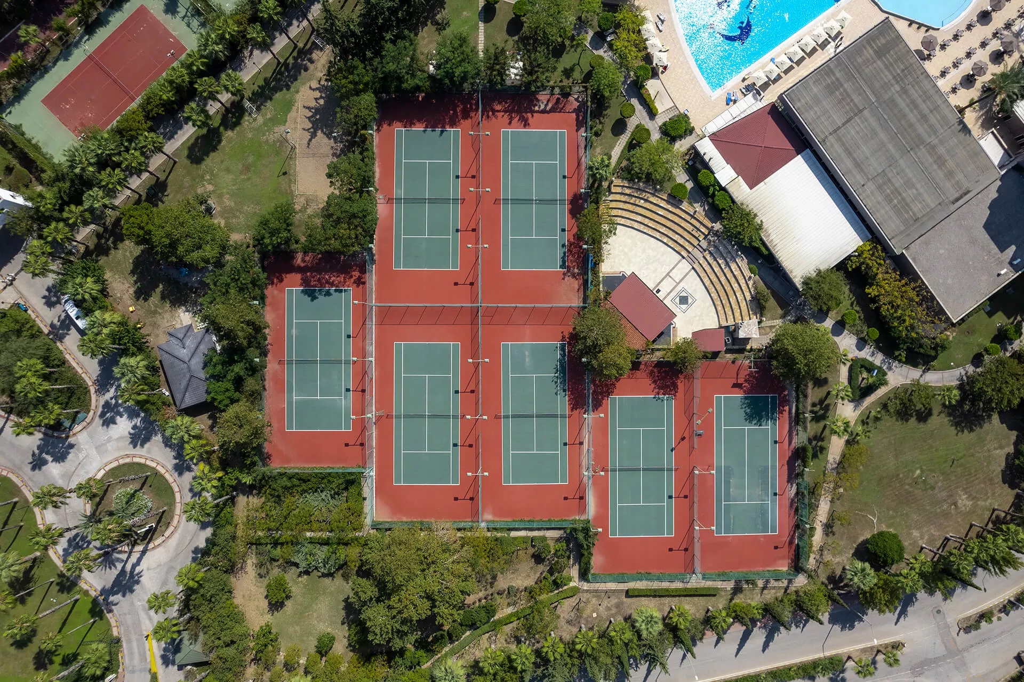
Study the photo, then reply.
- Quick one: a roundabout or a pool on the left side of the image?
roundabout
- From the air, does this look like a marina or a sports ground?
sports ground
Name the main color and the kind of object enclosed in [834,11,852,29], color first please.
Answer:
white umbrella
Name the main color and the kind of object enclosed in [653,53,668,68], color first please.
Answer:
white umbrella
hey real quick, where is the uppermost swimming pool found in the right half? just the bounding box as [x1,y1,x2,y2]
[873,0,976,28]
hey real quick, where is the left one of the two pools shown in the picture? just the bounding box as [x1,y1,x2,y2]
[669,0,852,96]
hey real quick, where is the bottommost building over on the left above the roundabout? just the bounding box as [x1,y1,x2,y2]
[160,324,221,410]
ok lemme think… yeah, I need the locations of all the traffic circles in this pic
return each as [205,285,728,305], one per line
[83,453,183,554]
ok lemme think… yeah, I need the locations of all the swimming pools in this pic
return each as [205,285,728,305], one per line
[669,0,852,96]
[873,0,976,28]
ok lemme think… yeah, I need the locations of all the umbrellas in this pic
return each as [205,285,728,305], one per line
[822,20,840,38]
[653,53,668,68]
[809,27,827,46]
[965,61,987,78]
[750,69,768,88]
[916,35,937,53]
[649,37,663,55]
[785,45,804,62]
[992,35,1013,53]
[834,11,852,29]
[773,55,791,73]
[797,36,815,54]
[982,0,1004,15]
[762,63,780,81]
